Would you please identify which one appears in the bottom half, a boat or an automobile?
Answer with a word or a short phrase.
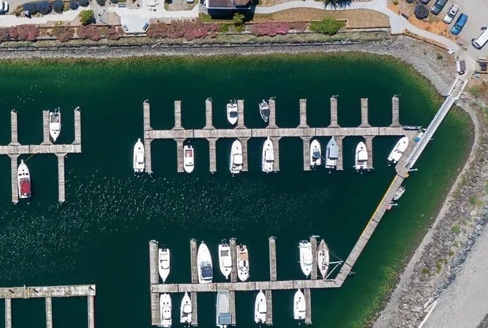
boat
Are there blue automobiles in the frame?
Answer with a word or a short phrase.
Yes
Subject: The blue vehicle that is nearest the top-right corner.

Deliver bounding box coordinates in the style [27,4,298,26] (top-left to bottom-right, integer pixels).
[451,12,468,35]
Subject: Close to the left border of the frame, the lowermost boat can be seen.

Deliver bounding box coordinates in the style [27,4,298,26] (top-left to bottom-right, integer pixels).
[16,159,31,198]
